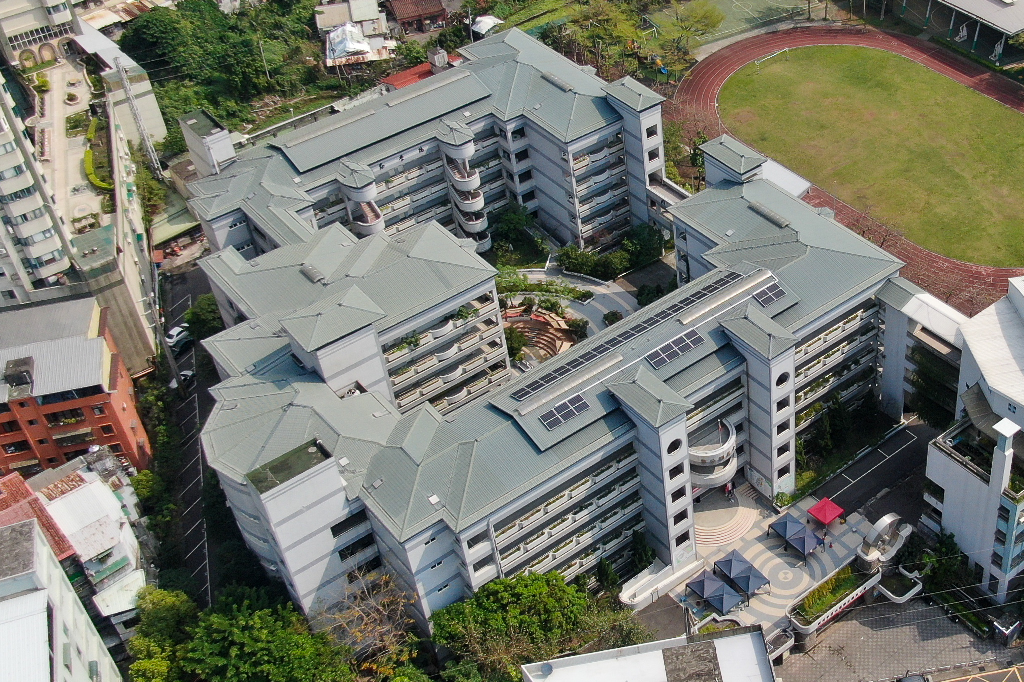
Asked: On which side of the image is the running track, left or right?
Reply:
right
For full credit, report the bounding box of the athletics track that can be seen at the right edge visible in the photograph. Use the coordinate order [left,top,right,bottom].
[676,32,1024,289]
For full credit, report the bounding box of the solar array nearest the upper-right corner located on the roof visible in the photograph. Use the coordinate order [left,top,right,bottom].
[754,282,787,307]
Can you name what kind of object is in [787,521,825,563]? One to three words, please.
tent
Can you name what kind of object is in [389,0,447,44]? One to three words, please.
house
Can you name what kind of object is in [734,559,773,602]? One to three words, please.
tent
